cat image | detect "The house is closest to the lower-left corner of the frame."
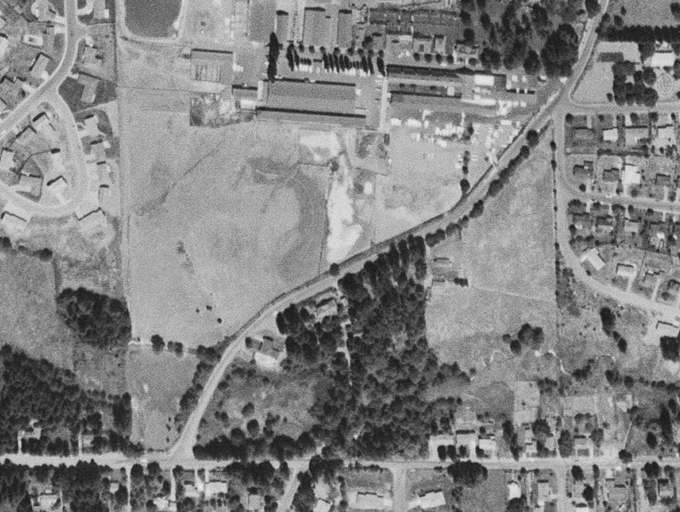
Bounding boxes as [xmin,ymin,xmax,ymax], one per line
[39,494,61,511]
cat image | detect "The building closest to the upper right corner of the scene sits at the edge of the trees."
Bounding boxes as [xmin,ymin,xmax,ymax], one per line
[653,50,676,66]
